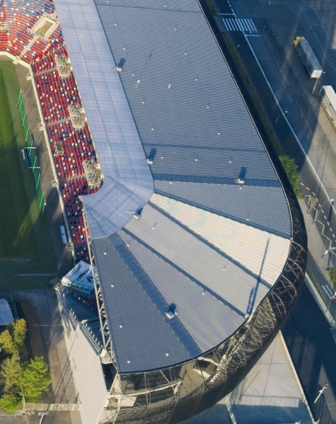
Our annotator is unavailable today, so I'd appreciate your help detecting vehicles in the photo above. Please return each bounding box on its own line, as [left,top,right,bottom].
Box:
[287,39,327,85]
[318,86,336,133]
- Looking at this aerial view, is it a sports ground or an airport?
sports ground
